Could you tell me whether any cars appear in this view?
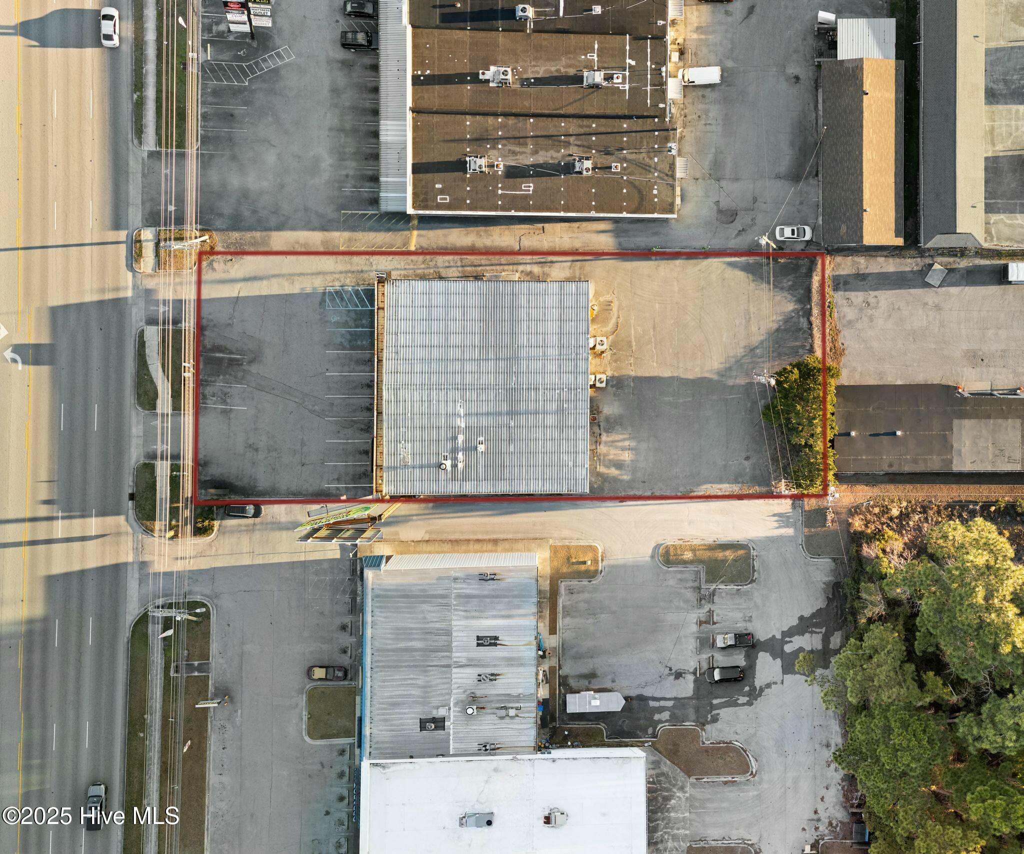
Yes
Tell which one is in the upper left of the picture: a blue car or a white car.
white car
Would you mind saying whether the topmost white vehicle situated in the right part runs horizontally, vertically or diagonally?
horizontally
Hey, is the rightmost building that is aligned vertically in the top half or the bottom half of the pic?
top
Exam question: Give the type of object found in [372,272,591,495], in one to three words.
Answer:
building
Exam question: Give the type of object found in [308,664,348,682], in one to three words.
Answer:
car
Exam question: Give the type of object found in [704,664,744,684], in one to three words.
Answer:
vehicle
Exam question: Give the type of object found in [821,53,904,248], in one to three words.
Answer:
building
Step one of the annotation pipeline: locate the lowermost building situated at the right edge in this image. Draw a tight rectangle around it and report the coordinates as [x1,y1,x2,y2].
[822,384,1024,472]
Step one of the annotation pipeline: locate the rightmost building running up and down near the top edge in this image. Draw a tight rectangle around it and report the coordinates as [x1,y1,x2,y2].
[902,0,985,250]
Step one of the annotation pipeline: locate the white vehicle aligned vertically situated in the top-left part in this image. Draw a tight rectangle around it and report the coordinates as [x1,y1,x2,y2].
[101,9,121,50]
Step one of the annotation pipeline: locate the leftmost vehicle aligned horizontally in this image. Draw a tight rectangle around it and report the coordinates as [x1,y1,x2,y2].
[225,502,264,520]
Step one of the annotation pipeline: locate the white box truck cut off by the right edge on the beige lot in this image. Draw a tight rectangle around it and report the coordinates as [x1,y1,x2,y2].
[987,262,1024,285]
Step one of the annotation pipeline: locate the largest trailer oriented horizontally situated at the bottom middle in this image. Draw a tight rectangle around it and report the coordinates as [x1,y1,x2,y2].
[566,686,626,712]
